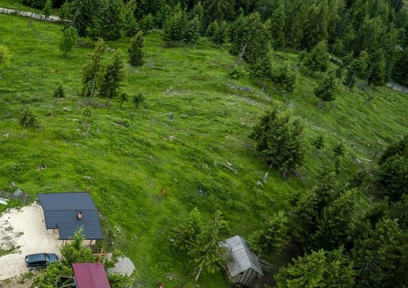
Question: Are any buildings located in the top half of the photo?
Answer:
No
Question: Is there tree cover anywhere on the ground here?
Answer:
Yes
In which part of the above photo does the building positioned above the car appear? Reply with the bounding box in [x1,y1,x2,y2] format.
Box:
[34,193,103,252]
